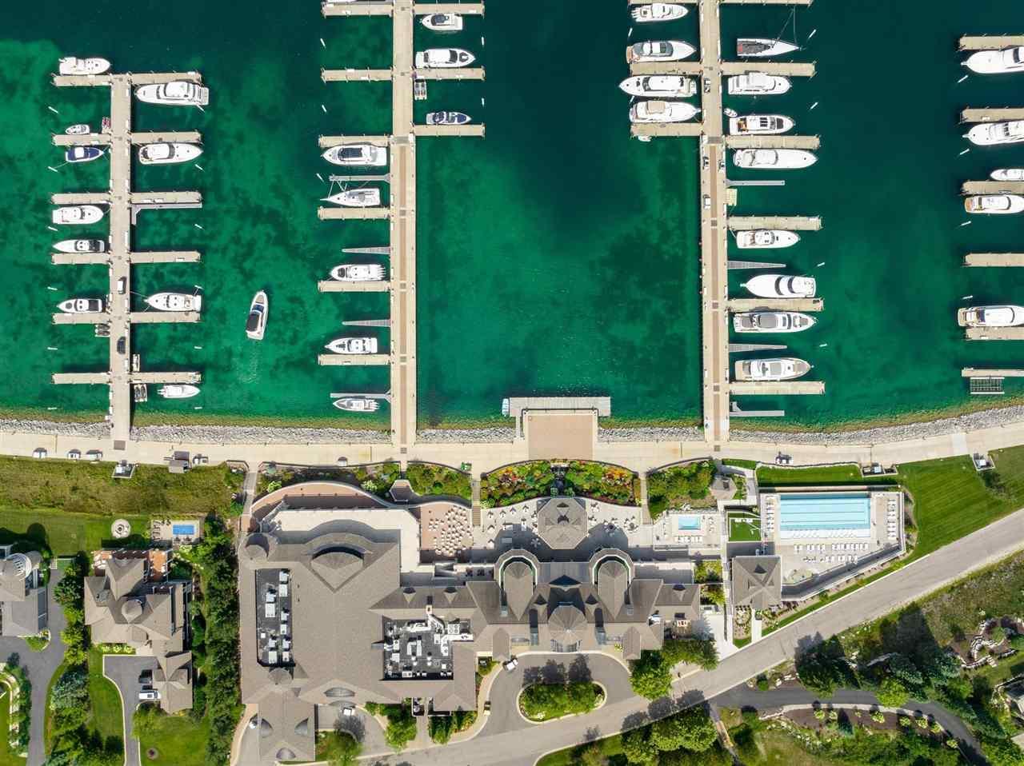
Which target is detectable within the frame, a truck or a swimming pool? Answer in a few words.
swimming pool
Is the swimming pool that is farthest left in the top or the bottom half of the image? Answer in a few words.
bottom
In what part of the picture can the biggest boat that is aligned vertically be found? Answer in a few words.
left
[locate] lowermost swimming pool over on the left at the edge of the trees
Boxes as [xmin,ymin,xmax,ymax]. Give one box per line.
[151,519,200,545]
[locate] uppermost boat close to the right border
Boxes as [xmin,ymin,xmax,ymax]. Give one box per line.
[963,47,1024,76]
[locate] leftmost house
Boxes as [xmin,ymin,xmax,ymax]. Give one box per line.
[0,542,52,638]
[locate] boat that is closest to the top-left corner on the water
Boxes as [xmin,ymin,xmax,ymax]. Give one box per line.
[60,57,112,75]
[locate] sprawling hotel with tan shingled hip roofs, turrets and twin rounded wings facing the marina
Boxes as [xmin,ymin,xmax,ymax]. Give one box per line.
[238,494,700,762]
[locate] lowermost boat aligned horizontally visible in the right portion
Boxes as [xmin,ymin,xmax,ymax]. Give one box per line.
[734,357,814,381]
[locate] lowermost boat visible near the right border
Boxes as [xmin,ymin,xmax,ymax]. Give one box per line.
[955,304,1024,328]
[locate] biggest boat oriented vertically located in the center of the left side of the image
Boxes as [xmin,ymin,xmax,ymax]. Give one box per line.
[246,291,268,340]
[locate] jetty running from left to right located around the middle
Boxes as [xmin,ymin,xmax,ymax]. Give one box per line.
[509,397,610,433]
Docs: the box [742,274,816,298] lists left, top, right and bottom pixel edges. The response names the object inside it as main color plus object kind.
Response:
white boat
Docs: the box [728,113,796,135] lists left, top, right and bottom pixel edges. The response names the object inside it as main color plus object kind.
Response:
white boat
